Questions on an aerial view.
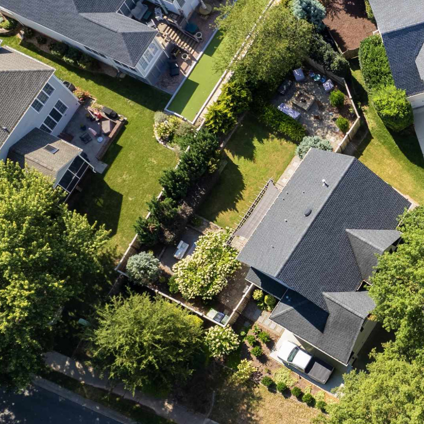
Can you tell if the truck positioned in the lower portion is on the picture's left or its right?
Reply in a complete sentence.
You can find the truck positioned in the lower portion on the right side of the picture.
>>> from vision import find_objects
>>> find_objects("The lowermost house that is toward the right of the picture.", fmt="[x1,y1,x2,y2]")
[236,148,413,372]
